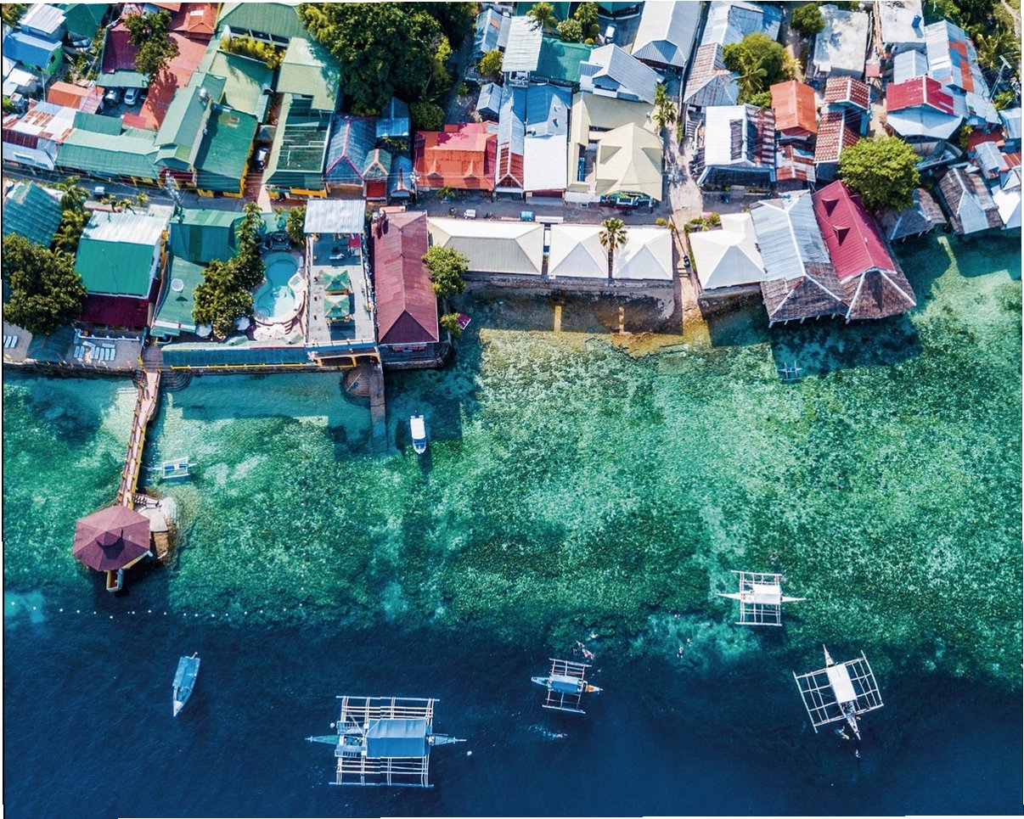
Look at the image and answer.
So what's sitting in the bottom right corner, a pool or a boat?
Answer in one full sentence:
There is a boat in the bottom right corner.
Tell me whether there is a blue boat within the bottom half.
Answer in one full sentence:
Yes, within the bottom half there is a blue boat.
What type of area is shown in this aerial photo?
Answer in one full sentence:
It's a residential area.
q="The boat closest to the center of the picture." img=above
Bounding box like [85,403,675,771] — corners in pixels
[410,410,426,455]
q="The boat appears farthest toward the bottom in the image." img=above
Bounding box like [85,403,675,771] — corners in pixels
[304,697,469,786]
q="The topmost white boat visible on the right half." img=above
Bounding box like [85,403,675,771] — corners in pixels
[718,571,808,626]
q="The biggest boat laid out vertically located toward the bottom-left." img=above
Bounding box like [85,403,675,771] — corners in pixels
[171,651,198,718]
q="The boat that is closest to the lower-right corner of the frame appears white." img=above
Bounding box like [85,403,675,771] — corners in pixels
[793,645,886,741]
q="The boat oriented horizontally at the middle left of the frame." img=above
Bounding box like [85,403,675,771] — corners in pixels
[143,457,199,477]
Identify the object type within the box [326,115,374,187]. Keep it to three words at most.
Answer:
house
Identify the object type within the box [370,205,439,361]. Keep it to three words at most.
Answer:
building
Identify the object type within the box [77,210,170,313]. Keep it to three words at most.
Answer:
building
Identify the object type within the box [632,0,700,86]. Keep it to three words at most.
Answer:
house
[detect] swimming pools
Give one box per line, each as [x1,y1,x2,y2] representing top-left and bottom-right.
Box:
[250,251,304,323]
